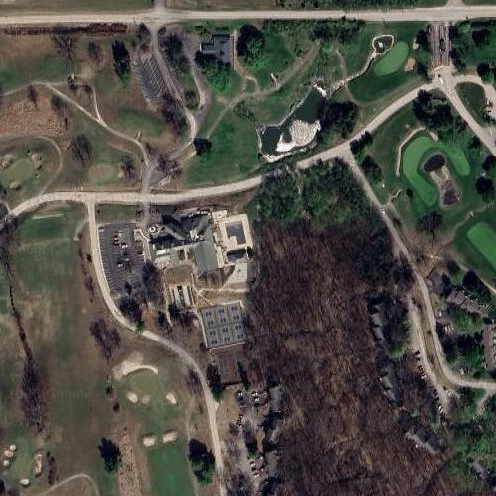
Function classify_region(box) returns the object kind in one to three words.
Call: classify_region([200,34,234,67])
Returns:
house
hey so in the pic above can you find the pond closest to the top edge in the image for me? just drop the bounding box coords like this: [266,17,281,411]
[257,86,326,161]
